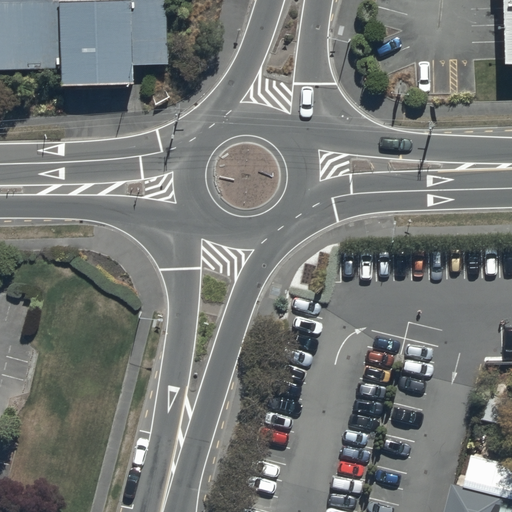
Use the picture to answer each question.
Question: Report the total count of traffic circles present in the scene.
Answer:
1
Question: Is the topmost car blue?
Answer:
Yes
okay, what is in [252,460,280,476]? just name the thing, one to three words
car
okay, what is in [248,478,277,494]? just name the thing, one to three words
car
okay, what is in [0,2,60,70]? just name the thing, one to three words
building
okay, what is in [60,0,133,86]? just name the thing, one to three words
building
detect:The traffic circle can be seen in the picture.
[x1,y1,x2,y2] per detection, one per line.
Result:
[187,116,307,236]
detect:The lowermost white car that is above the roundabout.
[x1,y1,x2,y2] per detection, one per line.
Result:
[300,86,314,118]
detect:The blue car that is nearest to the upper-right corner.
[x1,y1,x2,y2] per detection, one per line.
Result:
[376,37,402,58]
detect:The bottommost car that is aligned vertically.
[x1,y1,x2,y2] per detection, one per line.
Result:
[124,469,142,502]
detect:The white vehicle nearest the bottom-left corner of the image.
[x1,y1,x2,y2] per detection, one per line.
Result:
[133,436,150,468]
